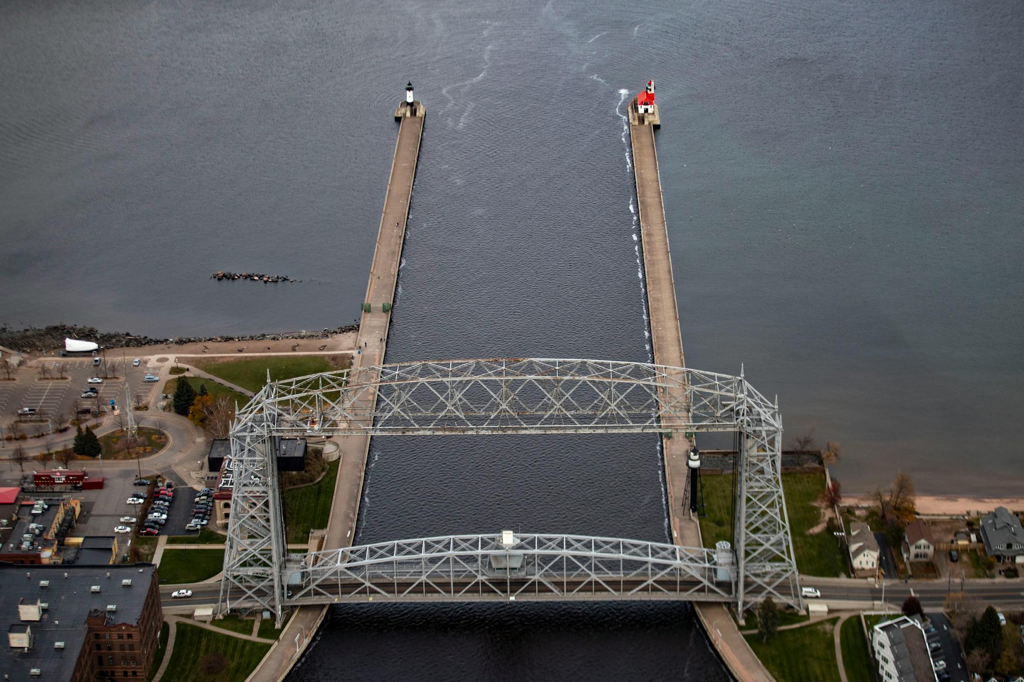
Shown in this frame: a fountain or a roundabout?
roundabout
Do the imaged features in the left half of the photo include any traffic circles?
Yes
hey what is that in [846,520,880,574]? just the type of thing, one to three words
house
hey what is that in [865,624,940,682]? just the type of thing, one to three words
building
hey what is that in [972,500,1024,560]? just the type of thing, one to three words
house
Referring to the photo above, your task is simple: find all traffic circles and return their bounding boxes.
[82,418,192,469]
